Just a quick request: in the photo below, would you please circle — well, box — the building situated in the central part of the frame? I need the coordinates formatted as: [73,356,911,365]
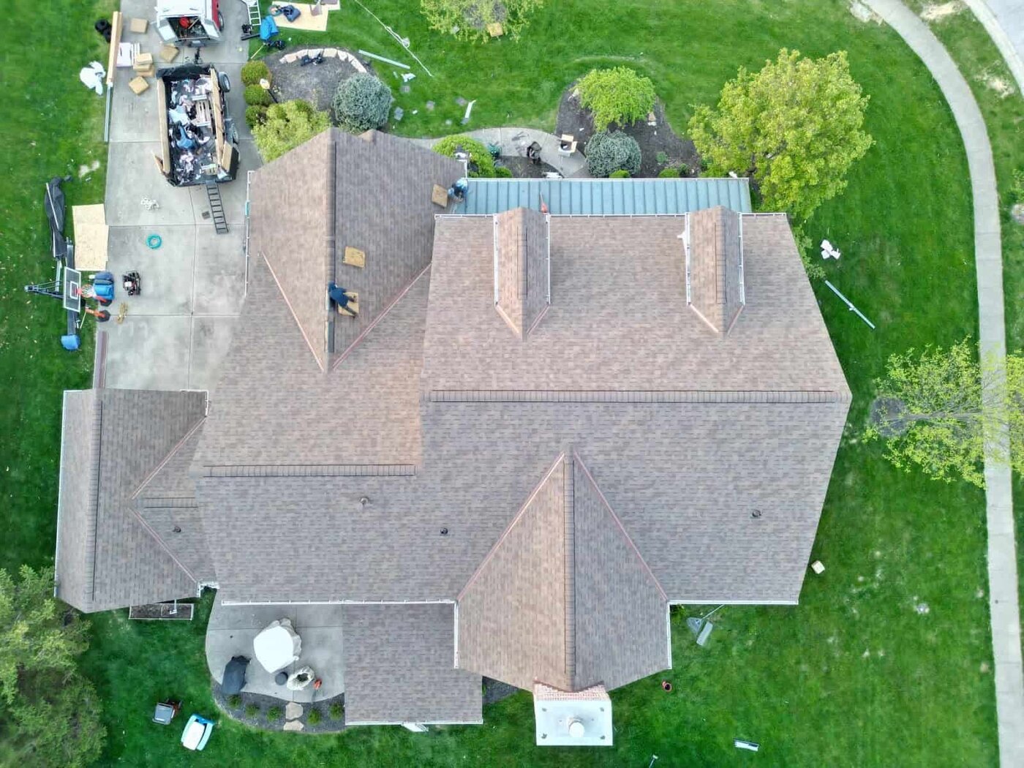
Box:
[52,128,851,747]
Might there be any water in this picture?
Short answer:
No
